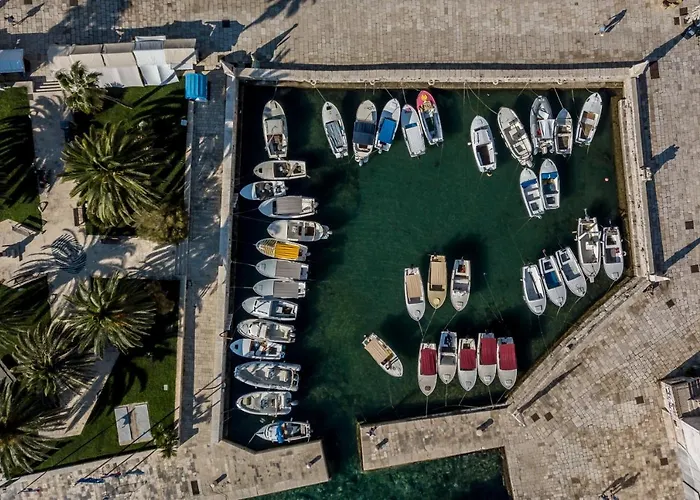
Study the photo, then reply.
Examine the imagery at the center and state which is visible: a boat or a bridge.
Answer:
boat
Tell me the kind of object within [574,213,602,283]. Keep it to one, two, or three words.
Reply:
boat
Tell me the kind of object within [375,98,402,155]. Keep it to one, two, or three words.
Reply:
boat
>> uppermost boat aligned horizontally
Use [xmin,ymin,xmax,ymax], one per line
[254,159,308,181]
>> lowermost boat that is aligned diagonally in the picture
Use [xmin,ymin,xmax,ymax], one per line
[363,332,402,376]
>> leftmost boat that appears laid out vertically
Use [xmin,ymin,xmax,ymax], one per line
[262,100,289,161]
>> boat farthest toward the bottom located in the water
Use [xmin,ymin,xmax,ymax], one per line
[256,417,314,445]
